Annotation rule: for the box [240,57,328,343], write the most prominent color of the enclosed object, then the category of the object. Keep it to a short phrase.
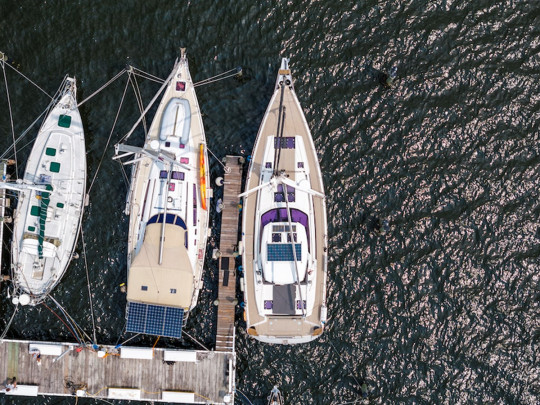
white boat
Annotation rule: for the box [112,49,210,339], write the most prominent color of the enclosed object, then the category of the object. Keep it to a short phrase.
white boat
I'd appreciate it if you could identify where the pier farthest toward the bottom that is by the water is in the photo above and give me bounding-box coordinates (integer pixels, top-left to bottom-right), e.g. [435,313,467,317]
[0,338,237,405]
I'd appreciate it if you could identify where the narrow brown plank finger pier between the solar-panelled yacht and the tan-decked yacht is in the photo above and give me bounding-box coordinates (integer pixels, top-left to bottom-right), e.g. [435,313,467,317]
[214,156,247,352]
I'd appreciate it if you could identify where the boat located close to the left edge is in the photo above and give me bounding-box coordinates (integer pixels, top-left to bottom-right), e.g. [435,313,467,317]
[0,75,89,305]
